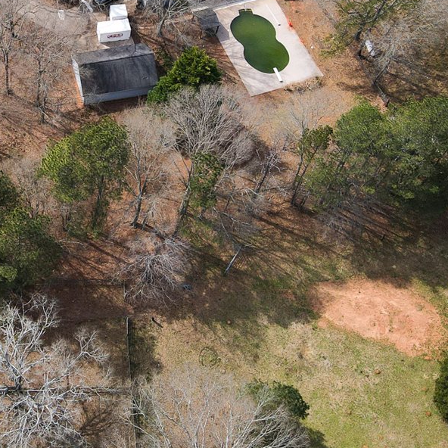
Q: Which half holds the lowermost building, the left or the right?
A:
left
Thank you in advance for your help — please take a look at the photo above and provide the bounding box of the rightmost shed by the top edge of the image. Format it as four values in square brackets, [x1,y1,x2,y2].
[191,9,220,37]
